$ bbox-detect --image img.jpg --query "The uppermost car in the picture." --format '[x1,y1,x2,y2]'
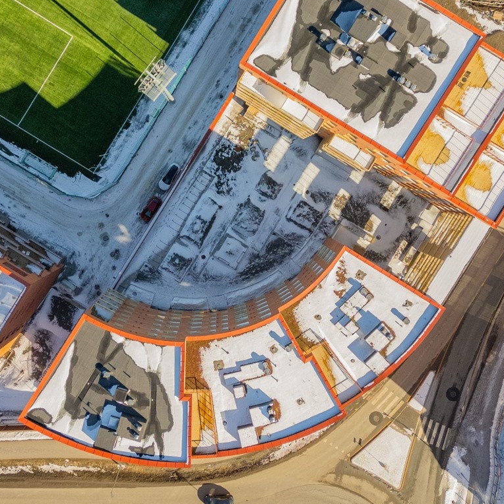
[158,163,181,194]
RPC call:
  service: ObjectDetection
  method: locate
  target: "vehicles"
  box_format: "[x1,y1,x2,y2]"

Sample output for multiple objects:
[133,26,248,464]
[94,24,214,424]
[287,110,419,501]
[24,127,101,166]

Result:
[204,492,235,504]
[140,196,163,225]
[158,163,181,194]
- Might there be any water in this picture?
No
